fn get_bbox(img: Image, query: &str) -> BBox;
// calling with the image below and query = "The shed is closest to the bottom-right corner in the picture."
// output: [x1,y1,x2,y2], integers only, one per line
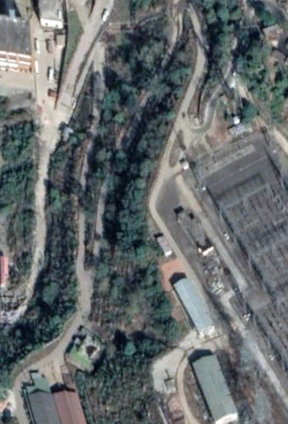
[188,356,238,424]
